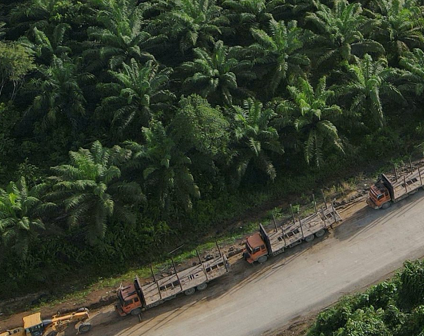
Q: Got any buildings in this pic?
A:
No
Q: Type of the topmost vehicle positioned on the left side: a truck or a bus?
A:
truck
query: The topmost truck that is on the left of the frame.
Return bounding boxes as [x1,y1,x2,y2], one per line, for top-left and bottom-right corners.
[112,245,223,317]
